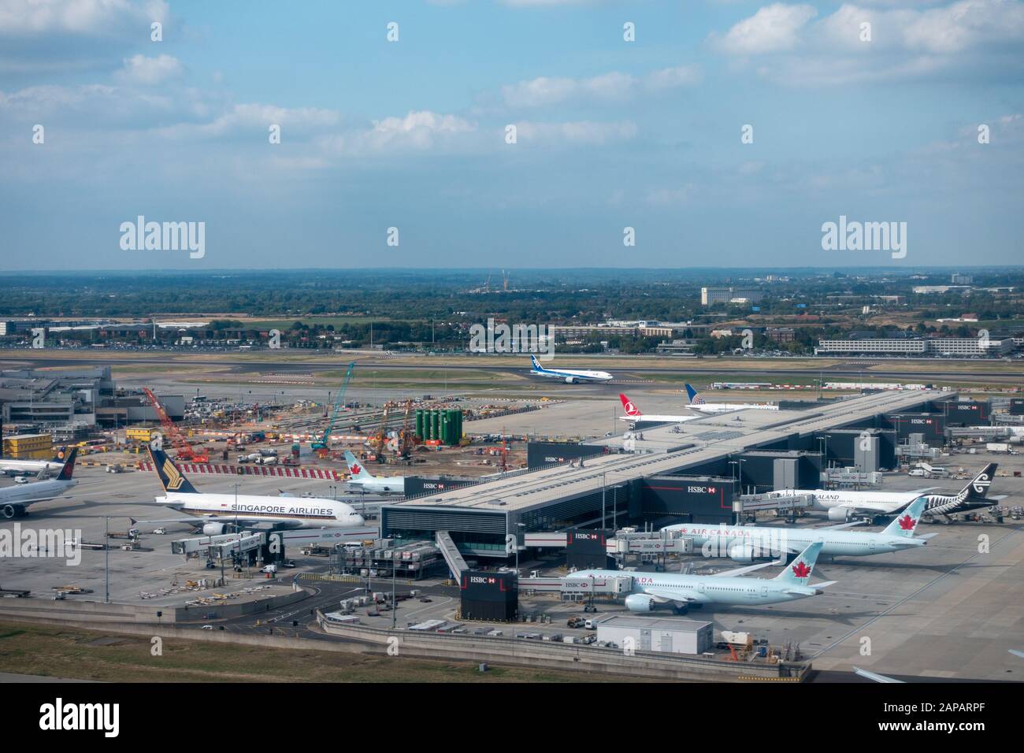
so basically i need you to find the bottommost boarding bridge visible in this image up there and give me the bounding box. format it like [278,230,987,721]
[530,578,644,619]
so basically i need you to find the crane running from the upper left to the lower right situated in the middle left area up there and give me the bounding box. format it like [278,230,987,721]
[140,387,213,462]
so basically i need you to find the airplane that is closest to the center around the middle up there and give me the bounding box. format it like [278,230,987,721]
[526,353,613,384]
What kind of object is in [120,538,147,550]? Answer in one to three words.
vehicle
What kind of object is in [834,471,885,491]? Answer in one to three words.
jet bridge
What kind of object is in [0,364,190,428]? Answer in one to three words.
building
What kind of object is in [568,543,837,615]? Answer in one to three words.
airplane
